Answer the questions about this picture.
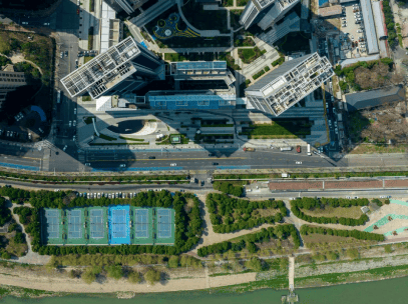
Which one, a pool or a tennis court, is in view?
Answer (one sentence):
Visible in the photo is a tennis court.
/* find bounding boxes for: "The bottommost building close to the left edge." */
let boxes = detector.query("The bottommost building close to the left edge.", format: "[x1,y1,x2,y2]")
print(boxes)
[0,68,27,125]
